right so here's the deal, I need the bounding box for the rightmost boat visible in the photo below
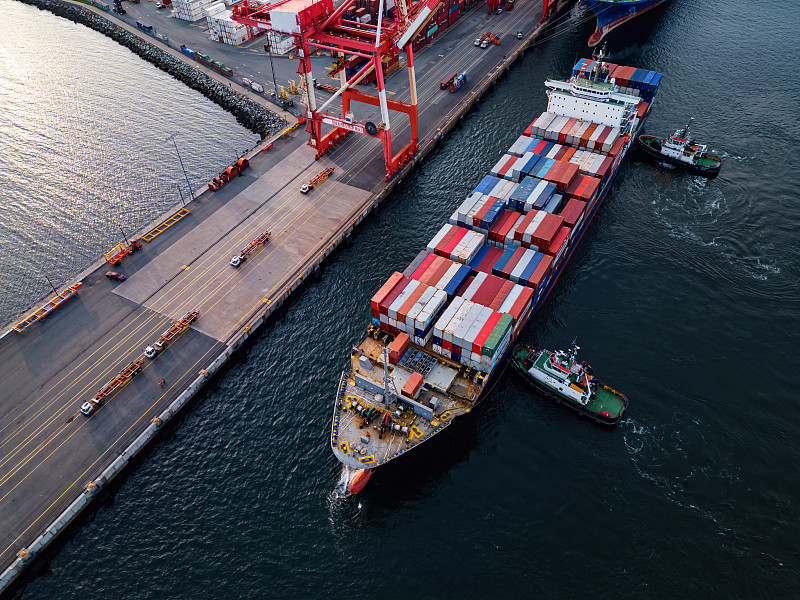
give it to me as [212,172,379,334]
[638,117,722,174]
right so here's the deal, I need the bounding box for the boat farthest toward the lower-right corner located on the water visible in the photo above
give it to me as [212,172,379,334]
[509,339,635,426]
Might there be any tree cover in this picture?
No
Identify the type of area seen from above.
port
